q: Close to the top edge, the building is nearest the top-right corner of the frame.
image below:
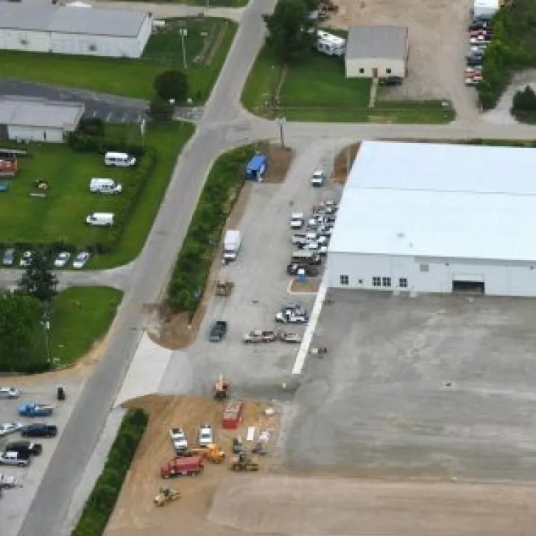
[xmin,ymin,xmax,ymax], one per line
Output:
[344,25,408,77]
